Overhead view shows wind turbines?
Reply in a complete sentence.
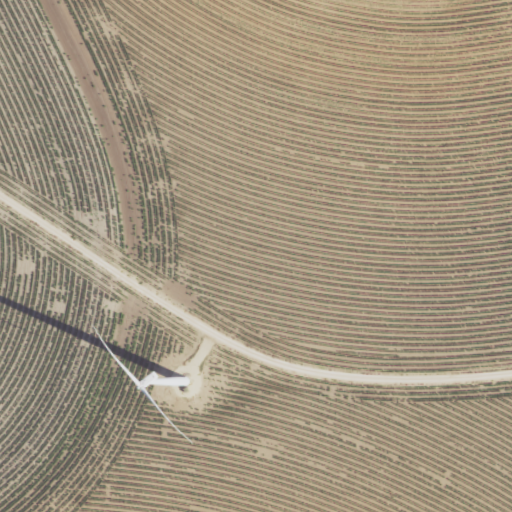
Yes, there is a wind turbine in the image.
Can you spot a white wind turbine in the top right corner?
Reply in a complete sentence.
No, looking in the top right corner, there is no white wind turbine.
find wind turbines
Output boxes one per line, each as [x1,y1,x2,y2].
[92,325,192,442]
